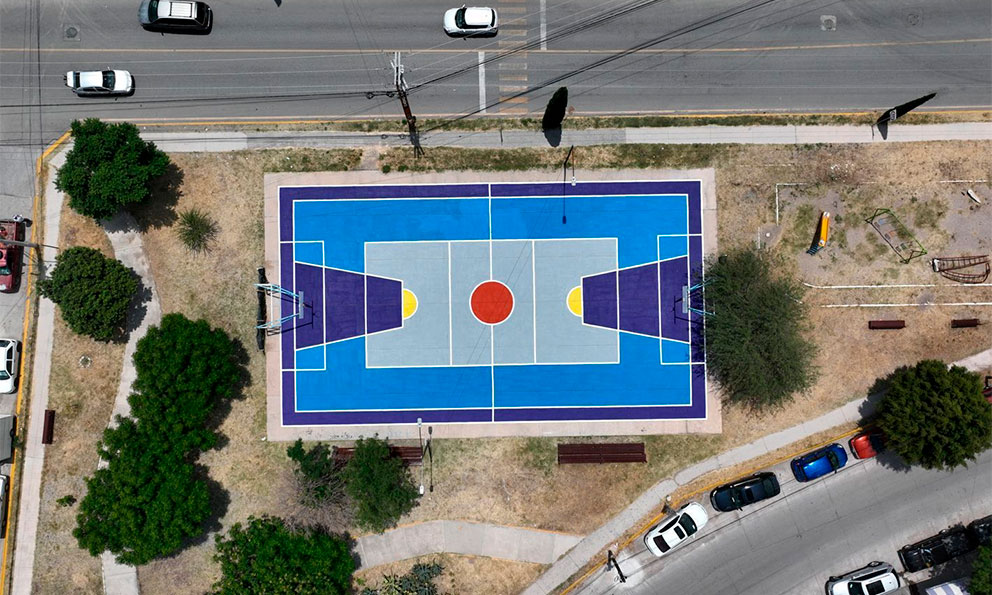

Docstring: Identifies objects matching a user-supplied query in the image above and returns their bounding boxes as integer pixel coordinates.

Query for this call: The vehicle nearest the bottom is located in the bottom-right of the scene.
[823,558,898,595]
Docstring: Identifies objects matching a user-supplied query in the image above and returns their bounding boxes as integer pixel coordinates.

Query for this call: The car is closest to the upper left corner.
[63,68,136,100]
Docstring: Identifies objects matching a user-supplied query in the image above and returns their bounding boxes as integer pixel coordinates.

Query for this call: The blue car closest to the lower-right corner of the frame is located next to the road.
[789,442,849,483]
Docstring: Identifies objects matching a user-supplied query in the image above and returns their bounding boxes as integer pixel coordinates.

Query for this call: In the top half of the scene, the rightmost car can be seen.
[444,4,499,39]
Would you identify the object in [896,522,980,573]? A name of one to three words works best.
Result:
truck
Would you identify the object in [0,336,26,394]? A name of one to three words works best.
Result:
car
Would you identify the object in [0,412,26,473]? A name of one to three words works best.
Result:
trailer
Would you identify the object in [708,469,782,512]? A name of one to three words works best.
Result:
car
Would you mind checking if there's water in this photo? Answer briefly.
No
